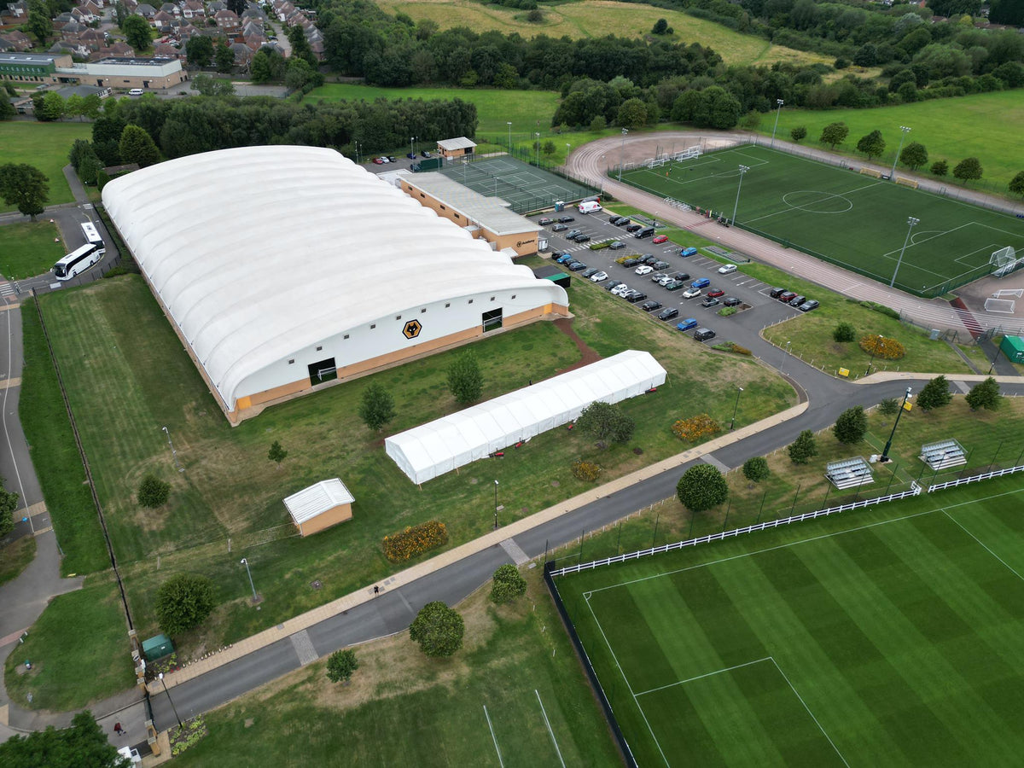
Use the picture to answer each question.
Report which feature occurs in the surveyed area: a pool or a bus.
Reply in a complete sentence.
The image shows a bus.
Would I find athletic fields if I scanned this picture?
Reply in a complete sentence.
Yes, this view includes an athletic field.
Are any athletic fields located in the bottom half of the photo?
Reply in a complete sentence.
Yes, looking in the bottom half of the photo, one can make out an athletic field.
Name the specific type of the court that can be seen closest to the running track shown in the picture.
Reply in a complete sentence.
It turns out the court that can be seen closest to the running track is a tennis court.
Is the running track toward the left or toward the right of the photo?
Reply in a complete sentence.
It is on the right.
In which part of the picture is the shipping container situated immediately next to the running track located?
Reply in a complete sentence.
Look in the right portion of the view to spot the shipping container situated immediately next to the running track.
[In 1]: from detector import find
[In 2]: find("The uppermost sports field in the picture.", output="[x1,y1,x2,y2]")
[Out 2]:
[606,141,1024,297]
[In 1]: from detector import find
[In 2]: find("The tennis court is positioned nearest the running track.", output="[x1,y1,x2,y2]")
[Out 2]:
[410,154,596,214]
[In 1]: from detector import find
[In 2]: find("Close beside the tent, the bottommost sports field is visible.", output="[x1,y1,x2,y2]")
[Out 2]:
[549,467,1024,768]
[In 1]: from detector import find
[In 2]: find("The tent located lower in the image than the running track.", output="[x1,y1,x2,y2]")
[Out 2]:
[388,350,676,489]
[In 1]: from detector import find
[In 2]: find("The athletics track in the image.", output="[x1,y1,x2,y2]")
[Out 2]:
[566,131,1024,337]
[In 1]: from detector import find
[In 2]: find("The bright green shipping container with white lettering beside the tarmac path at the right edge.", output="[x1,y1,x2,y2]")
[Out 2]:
[980,332,1024,362]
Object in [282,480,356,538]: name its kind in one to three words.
shed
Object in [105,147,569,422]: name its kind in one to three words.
building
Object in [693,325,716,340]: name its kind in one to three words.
car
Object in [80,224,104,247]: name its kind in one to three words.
bus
